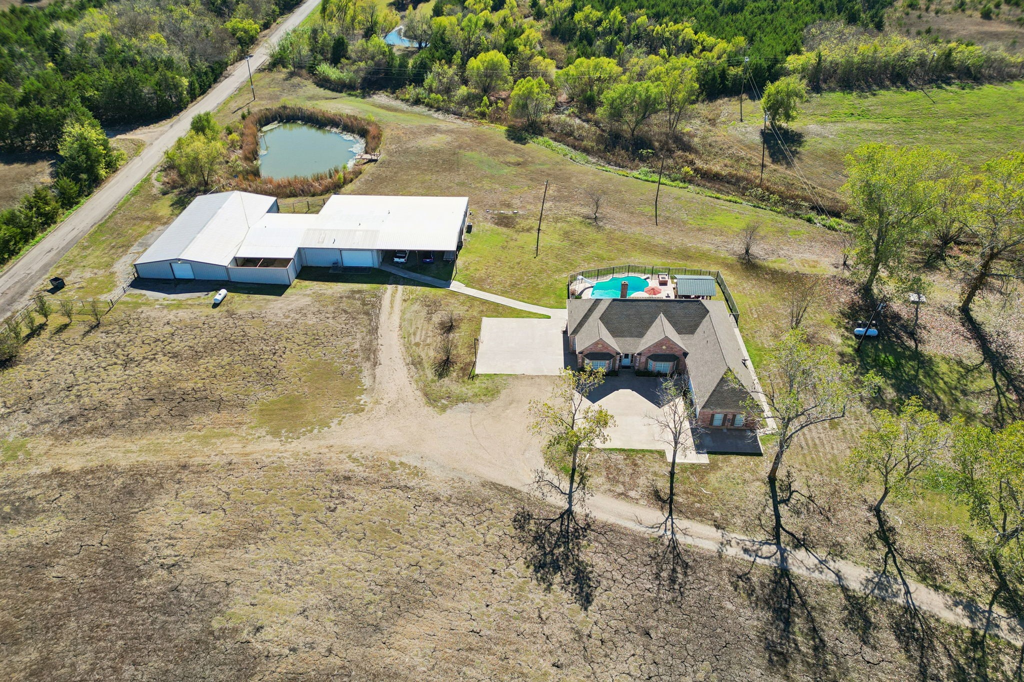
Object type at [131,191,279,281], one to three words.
barn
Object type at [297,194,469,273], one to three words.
building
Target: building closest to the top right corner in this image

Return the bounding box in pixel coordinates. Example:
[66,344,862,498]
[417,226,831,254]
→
[673,276,717,301]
